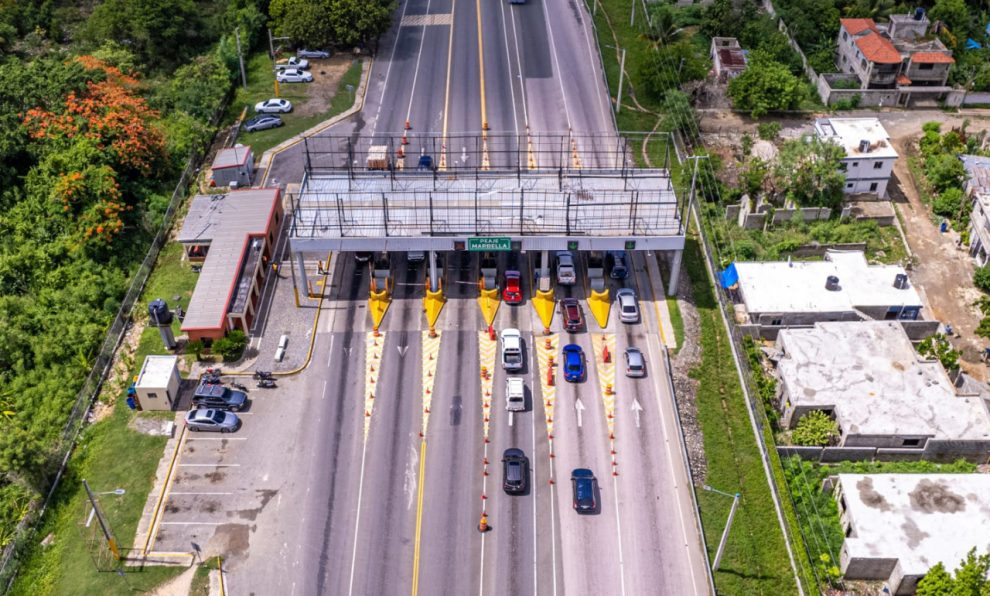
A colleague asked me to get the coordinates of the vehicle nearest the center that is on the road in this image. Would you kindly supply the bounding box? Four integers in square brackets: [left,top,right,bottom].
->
[503,277,523,305]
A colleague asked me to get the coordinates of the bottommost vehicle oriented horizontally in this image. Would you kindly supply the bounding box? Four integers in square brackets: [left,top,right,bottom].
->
[183,411,241,436]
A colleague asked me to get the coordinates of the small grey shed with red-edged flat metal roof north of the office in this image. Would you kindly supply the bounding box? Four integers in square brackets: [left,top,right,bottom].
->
[212,146,251,192]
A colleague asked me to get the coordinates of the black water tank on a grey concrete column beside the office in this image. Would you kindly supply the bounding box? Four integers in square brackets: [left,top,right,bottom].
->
[146,295,177,350]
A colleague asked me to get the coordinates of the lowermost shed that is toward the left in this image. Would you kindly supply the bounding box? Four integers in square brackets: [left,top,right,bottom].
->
[134,354,182,410]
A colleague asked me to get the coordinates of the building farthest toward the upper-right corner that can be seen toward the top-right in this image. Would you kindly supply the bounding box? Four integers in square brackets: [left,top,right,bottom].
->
[835,15,960,111]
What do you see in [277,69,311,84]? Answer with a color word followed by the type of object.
white car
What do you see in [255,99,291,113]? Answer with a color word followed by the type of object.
white car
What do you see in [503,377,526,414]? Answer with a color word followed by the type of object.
white vehicle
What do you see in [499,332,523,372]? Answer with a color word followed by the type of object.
white vehicle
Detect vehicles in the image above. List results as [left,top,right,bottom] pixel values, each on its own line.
[190,386,248,413]
[255,99,291,113]
[255,377,277,387]
[624,349,648,380]
[562,348,585,383]
[253,369,275,378]
[405,250,423,263]
[503,377,526,414]
[277,69,311,84]
[501,451,527,496]
[202,366,223,376]
[499,332,523,372]
[616,291,640,323]
[229,381,247,392]
[560,300,583,333]
[275,56,309,73]
[555,252,577,286]
[503,277,523,305]
[569,469,598,517]
[194,372,217,383]
[297,46,329,60]
[183,411,241,436]
[606,251,628,280]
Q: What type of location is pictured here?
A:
residential area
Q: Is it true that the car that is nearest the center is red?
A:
Yes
